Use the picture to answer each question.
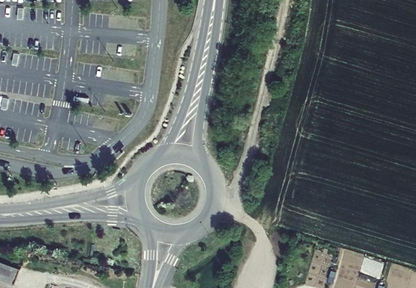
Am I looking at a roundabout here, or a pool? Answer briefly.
roundabout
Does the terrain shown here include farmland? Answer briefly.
Yes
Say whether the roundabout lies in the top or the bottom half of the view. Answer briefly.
bottom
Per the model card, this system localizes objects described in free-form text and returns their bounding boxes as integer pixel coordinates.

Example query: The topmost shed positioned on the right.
[360,258,385,280]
